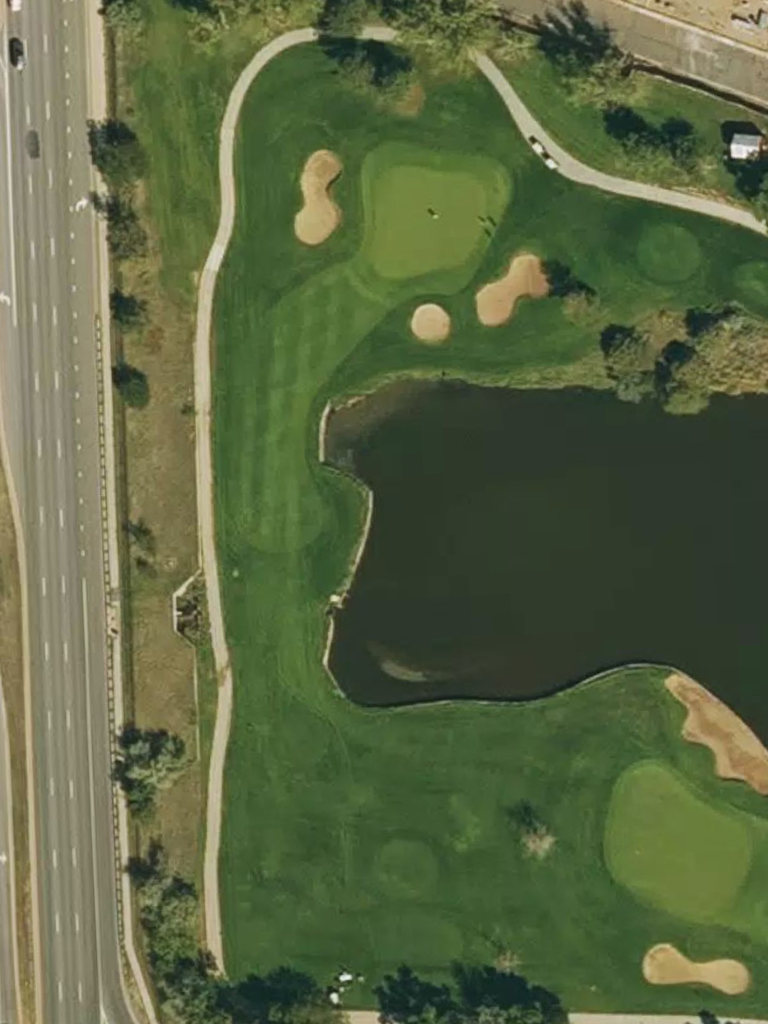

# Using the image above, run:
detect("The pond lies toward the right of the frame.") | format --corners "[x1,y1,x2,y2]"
[324,376,768,749]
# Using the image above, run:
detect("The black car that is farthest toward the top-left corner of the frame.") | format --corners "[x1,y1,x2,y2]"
[10,38,23,65]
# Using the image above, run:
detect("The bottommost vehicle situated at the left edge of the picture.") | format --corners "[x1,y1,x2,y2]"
[27,130,40,158]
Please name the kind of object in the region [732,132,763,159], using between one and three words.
building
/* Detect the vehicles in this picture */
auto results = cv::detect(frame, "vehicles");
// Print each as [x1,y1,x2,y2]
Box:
[10,0,21,11]
[27,130,40,158]
[10,38,23,65]
[532,142,544,155]
[339,974,352,983]
[545,156,558,170]
[330,990,340,1004]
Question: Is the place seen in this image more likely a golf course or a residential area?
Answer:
golf course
